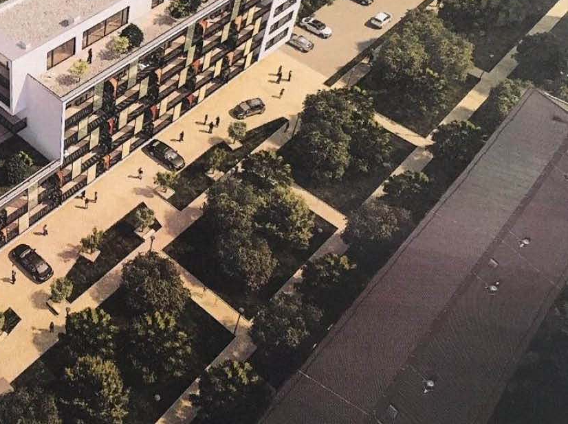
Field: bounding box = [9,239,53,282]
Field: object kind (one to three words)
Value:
car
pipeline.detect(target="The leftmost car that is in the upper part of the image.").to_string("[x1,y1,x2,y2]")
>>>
[145,135,186,166]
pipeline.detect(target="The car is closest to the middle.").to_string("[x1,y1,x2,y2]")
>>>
[231,89,267,117]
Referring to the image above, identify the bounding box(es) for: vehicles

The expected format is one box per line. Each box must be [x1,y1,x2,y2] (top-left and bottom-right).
[291,28,325,52]
[145,135,186,166]
[9,239,53,282]
[305,13,342,37]
[231,89,267,117]
[369,7,393,25]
